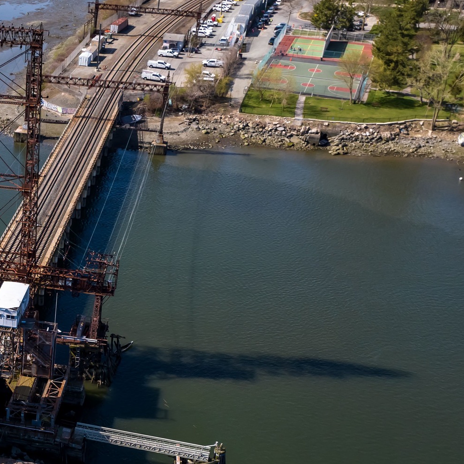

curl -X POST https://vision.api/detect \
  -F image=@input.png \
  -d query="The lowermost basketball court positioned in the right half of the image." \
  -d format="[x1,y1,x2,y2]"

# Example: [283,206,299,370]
[251,50,371,102]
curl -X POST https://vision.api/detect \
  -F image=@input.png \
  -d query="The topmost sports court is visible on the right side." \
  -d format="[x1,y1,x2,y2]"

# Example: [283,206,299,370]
[274,35,374,63]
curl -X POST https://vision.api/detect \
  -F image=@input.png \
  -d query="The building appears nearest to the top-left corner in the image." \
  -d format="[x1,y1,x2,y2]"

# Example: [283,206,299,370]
[162,25,189,47]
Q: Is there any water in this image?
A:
Yes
